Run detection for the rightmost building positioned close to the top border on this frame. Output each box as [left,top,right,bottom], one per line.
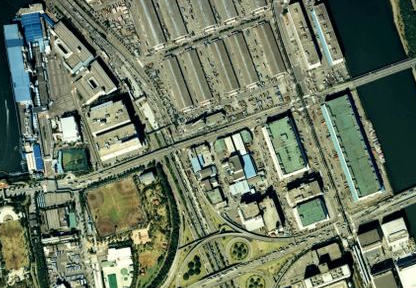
[312,2,345,66]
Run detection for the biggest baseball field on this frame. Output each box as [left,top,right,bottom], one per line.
[88,175,148,237]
